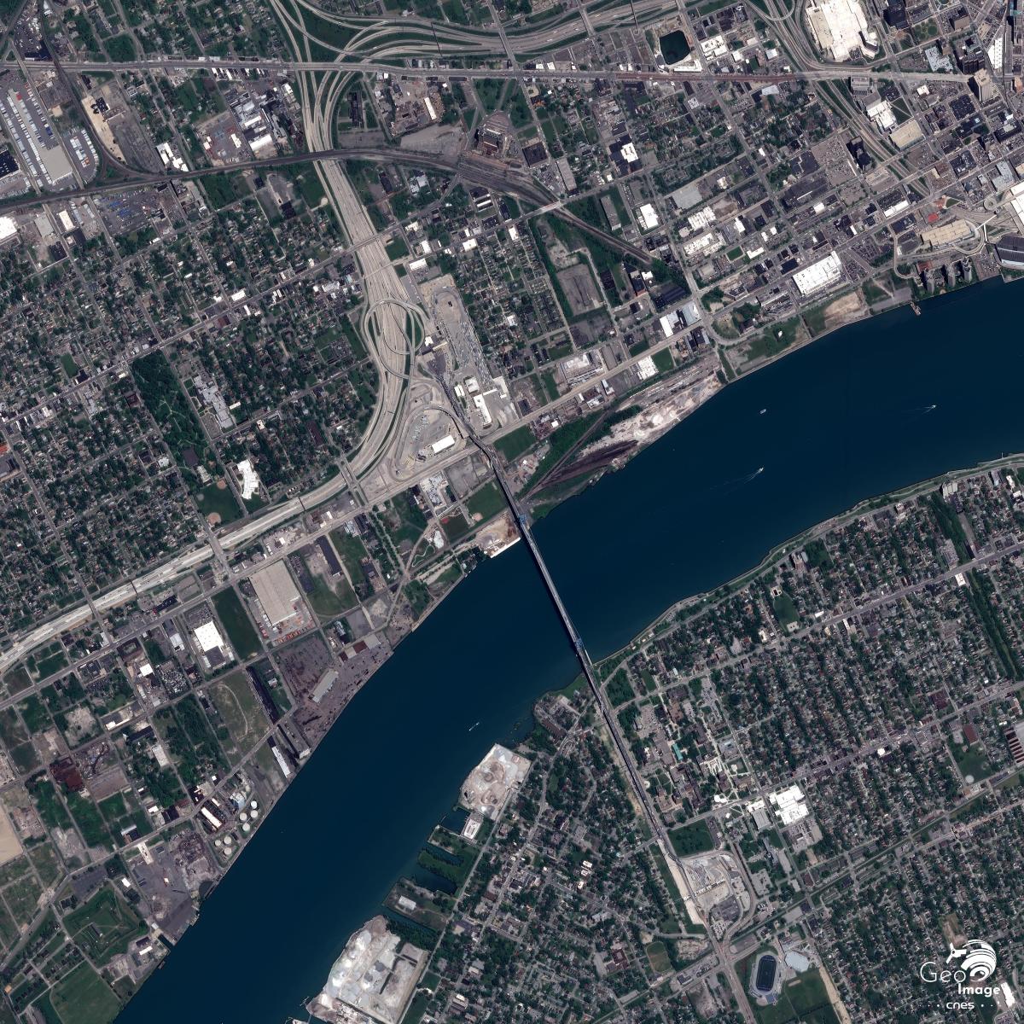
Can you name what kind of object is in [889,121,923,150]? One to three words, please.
building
